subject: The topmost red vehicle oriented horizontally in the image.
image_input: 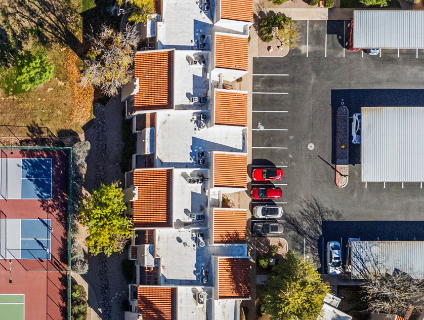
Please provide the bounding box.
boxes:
[253,166,286,181]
